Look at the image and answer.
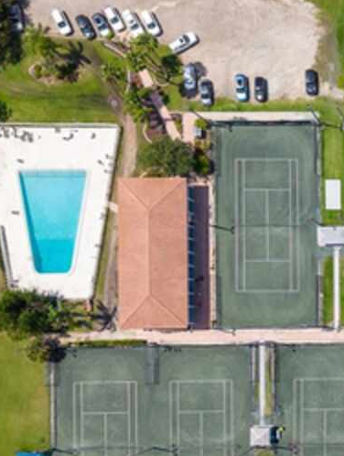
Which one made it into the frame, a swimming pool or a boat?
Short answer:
swimming pool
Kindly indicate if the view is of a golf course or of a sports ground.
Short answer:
sports ground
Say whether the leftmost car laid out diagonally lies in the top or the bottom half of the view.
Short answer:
top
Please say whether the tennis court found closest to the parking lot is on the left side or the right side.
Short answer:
right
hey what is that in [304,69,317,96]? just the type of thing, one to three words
vehicle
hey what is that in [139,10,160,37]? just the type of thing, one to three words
car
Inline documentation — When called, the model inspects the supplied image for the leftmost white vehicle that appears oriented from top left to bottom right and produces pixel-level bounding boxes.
[50,8,73,37]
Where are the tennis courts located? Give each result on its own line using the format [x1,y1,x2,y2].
[51,345,152,456]
[272,343,344,456]
[215,121,318,328]
[151,345,255,456]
